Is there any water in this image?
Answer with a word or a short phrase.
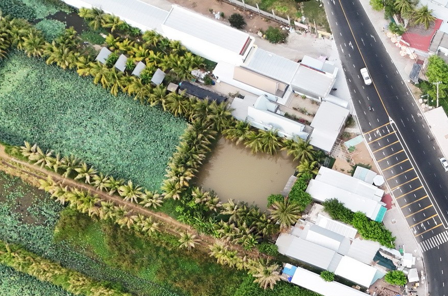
Yes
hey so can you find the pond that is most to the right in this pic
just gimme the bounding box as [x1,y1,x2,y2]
[194,137,298,210]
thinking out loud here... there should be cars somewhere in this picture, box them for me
[360,65,372,83]
[439,155,448,172]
